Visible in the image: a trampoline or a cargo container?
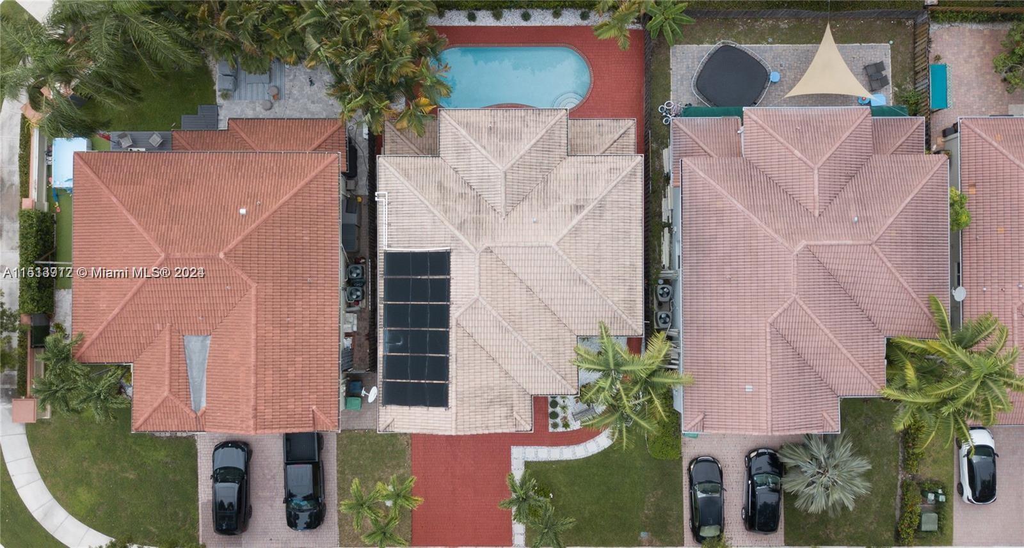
trampoline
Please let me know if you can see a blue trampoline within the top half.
No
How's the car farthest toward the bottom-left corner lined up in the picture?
from top to bottom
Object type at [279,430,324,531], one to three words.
truck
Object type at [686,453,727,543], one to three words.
car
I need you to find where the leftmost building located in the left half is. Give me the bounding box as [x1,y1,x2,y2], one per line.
[71,116,348,438]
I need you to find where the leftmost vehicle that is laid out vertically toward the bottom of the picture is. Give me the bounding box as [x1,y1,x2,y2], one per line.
[206,441,251,533]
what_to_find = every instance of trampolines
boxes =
[695,43,770,106]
